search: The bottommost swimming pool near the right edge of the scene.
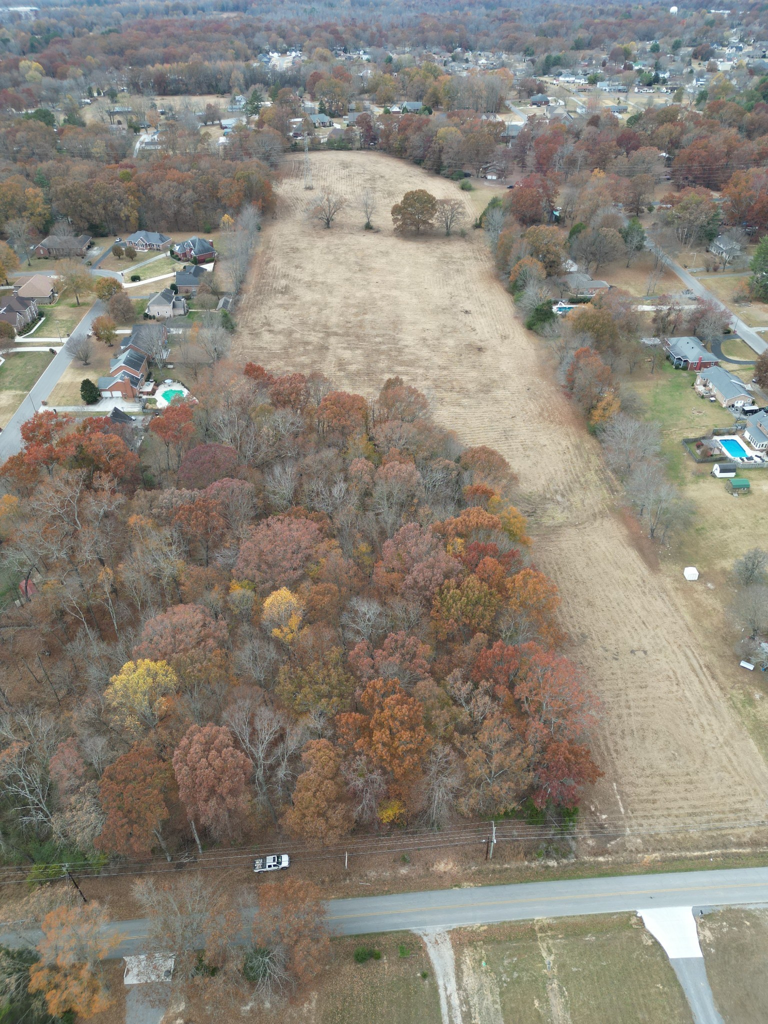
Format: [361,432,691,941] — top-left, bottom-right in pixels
[719,439,750,458]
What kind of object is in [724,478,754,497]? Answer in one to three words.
building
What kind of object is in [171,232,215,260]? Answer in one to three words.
house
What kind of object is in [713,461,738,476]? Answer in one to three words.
shed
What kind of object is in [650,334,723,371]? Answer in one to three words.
house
